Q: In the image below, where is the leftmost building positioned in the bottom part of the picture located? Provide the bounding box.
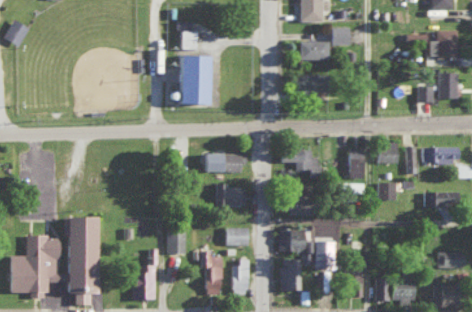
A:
[10,236,62,298]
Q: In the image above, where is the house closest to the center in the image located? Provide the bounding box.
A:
[206,152,246,181]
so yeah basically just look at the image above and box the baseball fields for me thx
[16,0,144,116]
